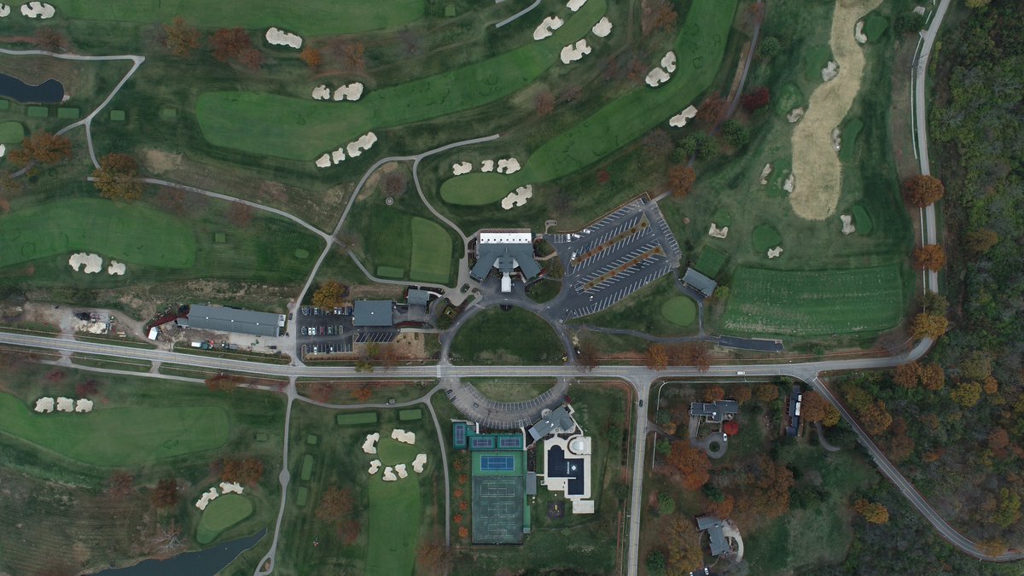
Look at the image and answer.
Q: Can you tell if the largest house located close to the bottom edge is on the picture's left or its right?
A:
right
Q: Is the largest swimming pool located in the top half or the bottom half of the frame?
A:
bottom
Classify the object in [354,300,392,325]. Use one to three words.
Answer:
building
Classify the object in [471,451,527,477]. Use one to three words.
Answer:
tennis court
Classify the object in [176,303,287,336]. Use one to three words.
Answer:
shed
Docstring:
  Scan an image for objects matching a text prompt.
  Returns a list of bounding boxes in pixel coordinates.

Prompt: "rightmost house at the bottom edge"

[695,514,730,556]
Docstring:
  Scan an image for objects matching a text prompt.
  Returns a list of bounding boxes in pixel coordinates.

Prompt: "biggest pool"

[544,434,594,514]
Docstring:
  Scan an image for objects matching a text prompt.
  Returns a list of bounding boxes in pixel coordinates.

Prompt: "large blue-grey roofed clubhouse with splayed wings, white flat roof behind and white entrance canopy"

[467,233,545,292]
